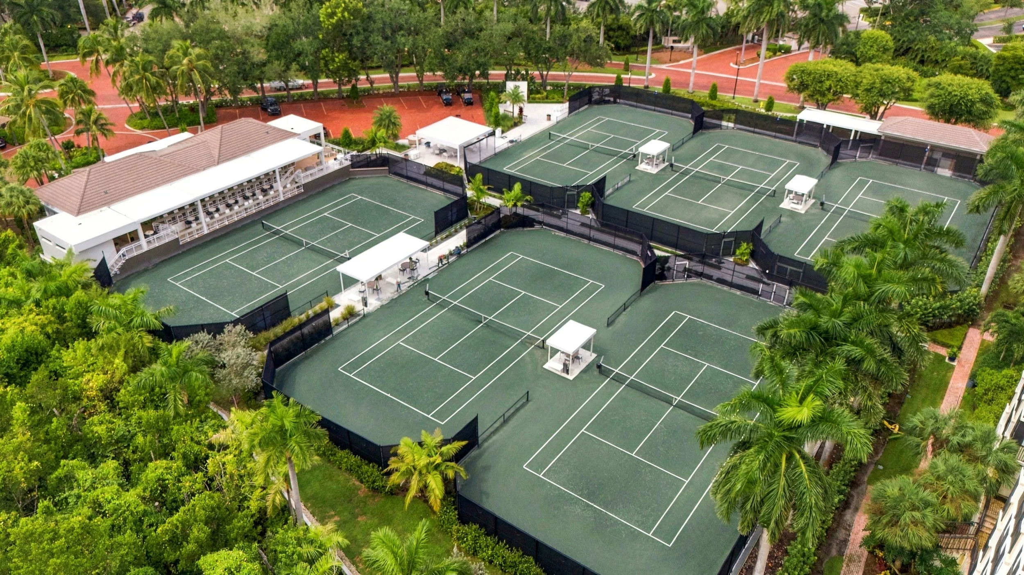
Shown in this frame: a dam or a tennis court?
tennis court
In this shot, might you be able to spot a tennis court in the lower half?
Yes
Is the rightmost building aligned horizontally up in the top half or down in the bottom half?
top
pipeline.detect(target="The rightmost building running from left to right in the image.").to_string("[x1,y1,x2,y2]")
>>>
[876,115,995,158]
